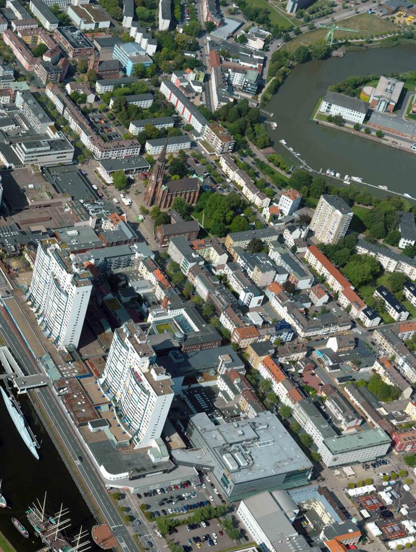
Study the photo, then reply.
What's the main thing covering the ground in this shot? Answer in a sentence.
For the most part, this view shows buildings.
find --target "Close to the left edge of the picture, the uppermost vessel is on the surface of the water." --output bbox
[0,385,40,459]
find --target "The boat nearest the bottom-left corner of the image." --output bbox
[11,516,28,538]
